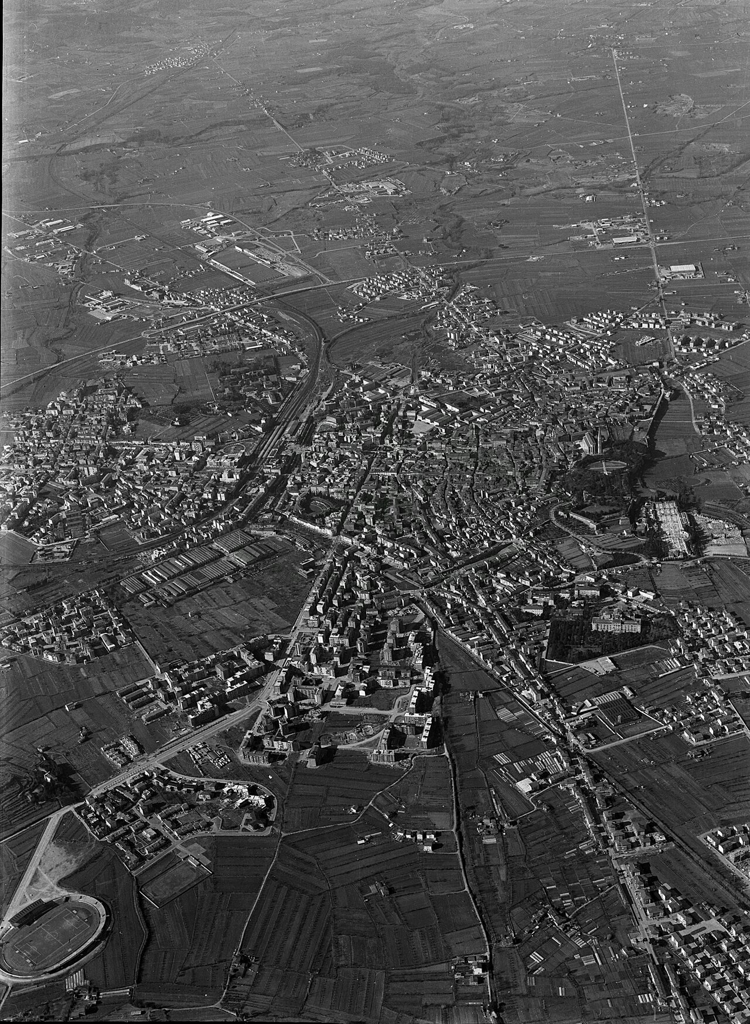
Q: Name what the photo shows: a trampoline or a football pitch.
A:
football pitch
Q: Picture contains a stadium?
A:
Yes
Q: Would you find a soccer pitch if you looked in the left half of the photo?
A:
Yes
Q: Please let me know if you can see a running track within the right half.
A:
No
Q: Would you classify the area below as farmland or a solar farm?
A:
farmland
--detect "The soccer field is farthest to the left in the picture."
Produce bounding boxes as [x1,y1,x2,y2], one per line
[11,906,91,966]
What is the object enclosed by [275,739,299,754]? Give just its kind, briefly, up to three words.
building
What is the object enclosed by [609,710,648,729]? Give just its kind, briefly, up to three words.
shed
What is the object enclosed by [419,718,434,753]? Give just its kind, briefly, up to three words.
building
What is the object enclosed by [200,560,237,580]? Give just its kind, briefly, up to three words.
shed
